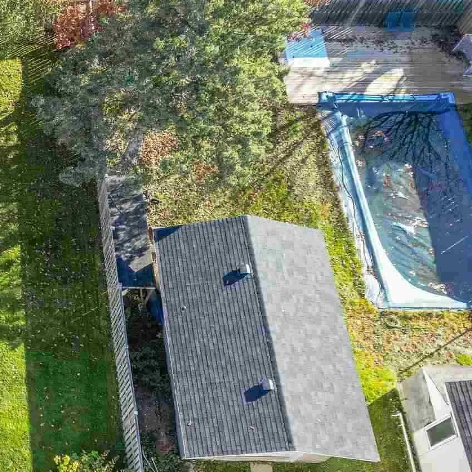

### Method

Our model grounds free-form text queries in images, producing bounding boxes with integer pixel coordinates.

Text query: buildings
[414,376,472,472]
[142,214,382,468]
